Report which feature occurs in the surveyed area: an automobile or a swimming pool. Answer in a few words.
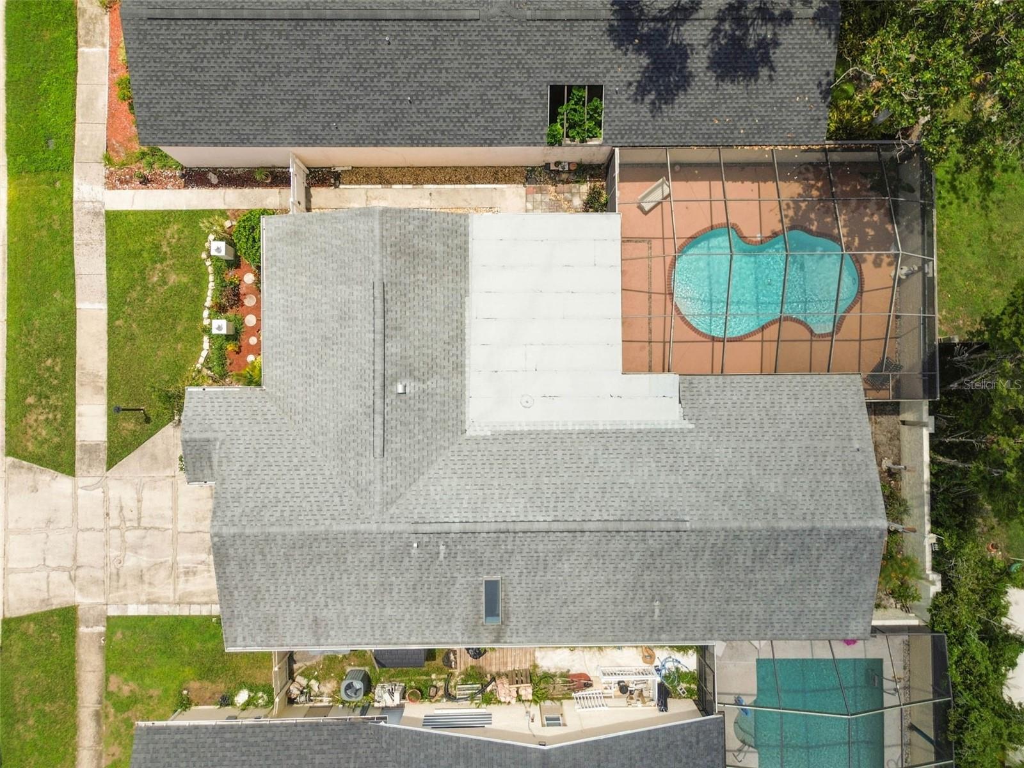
swimming pool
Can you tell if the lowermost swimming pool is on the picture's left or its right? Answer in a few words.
right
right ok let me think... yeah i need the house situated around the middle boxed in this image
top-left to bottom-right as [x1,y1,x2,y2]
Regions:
[181,206,888,654]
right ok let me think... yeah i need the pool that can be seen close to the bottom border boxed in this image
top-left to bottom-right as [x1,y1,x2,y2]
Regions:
[734,659,884,768]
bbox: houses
[130,703,726,768]
[121,0,839,168]
[181,206,888,654]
